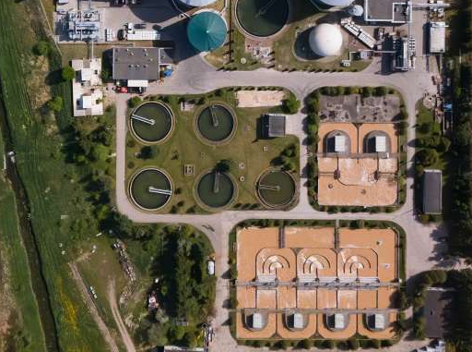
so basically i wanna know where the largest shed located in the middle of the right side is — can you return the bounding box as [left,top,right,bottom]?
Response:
[421,168,442,214]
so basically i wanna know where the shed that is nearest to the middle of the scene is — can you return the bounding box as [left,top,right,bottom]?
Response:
[269,113,285,136]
